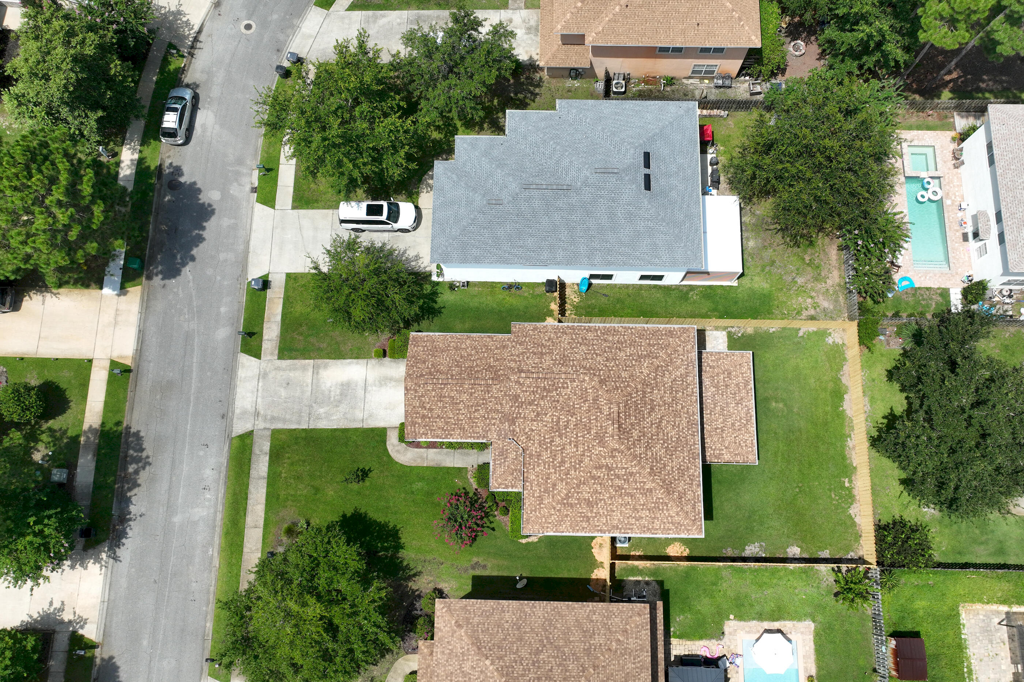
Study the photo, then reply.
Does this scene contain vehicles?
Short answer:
Yes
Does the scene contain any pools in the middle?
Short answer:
No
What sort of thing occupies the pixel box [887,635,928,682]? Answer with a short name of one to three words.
shed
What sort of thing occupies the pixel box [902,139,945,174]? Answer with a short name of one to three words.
swimming pool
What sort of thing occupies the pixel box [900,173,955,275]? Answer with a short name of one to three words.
swimming pool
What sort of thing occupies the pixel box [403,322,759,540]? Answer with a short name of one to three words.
house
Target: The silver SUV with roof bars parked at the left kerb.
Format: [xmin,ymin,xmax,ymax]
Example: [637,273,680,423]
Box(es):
[157,84,194,144]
